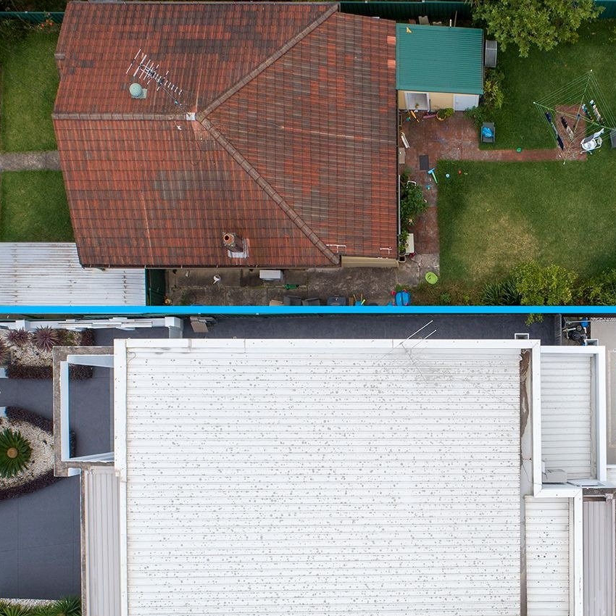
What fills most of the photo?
buildings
